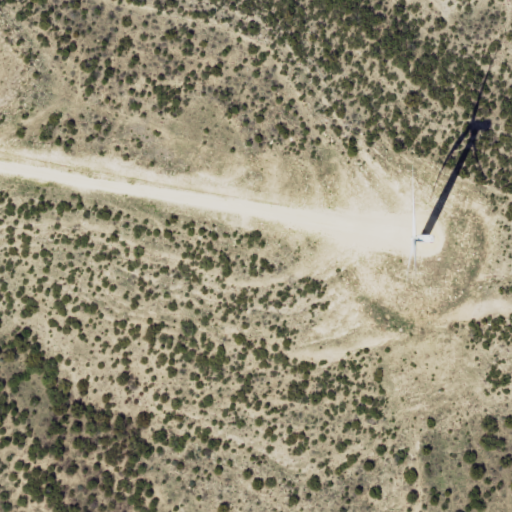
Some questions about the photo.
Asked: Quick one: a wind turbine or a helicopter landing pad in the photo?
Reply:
wind turbine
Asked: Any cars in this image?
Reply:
No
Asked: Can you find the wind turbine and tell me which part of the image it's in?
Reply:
right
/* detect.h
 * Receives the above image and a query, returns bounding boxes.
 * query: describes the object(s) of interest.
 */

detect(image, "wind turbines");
[402,170,435,299]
